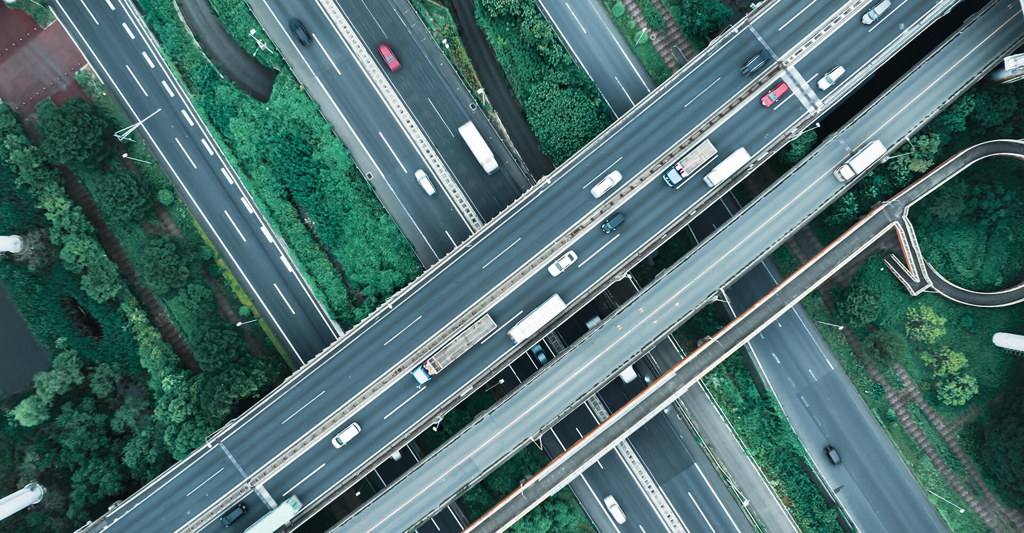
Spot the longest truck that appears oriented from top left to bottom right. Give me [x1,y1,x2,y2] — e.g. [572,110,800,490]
[456,119,502,178]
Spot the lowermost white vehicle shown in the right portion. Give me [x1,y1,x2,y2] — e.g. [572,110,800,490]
[605,494,628,524]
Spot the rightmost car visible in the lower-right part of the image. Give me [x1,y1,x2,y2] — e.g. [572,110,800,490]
[822,442,843,468]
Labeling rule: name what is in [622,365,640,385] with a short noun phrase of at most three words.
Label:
vehicle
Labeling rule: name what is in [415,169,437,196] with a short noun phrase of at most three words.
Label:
car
